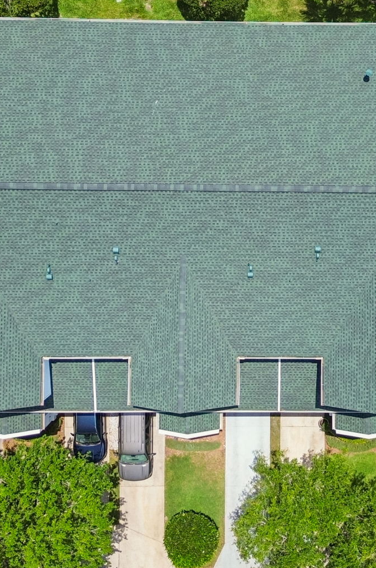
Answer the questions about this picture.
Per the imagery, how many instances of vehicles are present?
2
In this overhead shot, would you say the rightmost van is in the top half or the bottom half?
bottom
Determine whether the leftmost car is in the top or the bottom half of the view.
bottom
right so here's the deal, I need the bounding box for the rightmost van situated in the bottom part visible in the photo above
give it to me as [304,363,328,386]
[114,414,155,480]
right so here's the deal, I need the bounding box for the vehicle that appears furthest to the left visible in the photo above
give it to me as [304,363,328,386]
[65,414,105,463]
